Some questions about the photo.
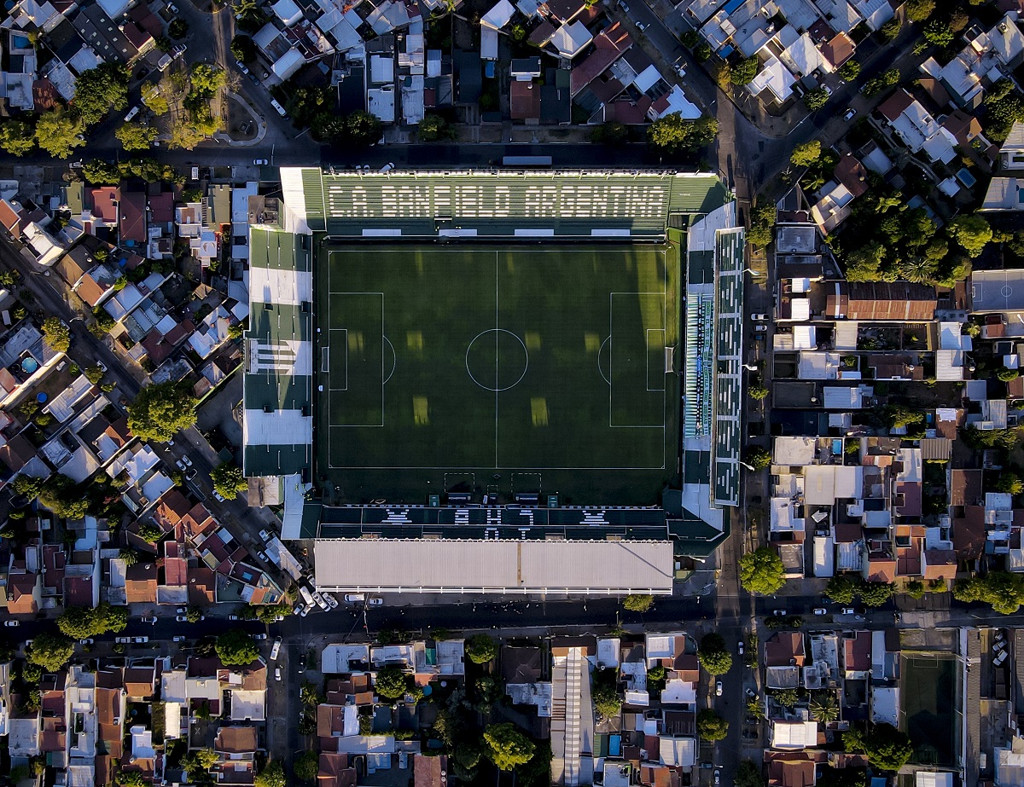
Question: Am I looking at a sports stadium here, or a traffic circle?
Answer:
sports stadium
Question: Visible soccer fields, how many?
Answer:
2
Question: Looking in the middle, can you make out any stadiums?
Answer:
Yes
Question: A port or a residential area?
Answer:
residential area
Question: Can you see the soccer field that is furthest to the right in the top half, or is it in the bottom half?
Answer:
bottom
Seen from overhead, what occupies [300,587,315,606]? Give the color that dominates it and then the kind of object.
white vehicle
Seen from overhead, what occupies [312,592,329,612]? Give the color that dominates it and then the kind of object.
white vehicle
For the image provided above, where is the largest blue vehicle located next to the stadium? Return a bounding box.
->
[502,156,552,168]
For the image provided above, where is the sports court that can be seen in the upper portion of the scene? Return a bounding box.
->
[969,269,1024,312]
